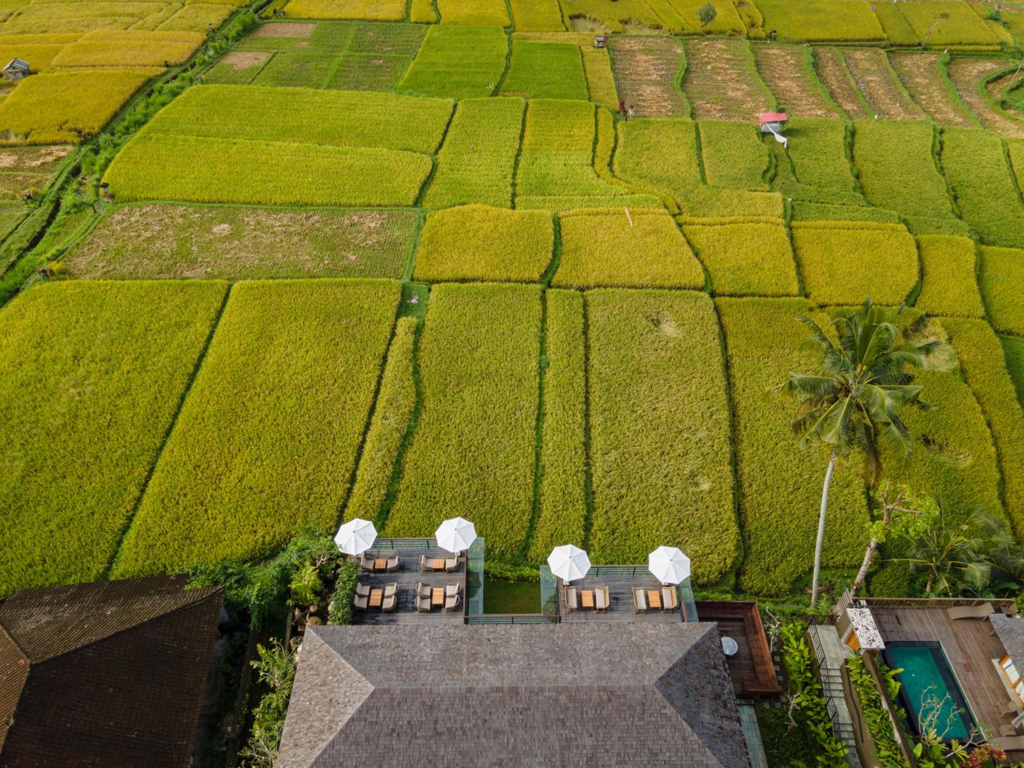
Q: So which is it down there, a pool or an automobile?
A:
pool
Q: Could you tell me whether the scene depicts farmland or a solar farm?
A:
farmland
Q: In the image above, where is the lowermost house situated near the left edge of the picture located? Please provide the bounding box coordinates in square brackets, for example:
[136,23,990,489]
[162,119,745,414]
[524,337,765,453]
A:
[0,576,225,768]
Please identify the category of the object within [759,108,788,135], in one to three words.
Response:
shed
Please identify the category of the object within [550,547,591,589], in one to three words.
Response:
umbrella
